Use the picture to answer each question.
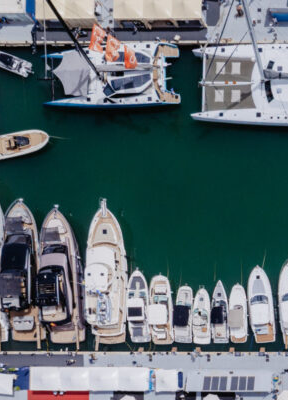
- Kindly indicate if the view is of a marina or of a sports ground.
marina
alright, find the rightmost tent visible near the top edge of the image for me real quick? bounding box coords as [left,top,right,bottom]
[173,0,208,29]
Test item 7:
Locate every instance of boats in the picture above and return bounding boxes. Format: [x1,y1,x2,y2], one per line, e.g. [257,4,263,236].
[246,238,280,354]
[145,249,177,357]
[82,165,134,364]
[0,170,52,366]
[208,259,231,355]
[0,130,66,163]
[0,0,183,109]
[188,263,214,355]
[225,285,253,355]
[36,188,94,365]
[169,265,198,356]
[0,51,36,79]
[275,262,288,361]
[124,240,155,355]
[190,0,288,129]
